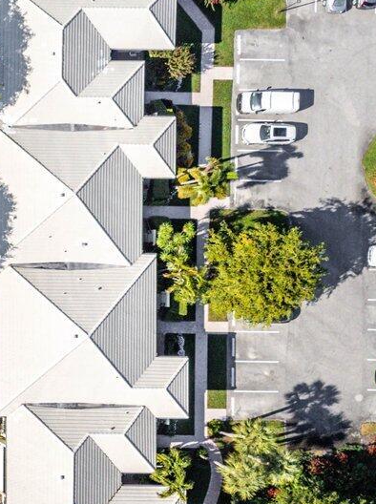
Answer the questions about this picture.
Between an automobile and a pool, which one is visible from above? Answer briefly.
automobile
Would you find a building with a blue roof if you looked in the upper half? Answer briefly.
No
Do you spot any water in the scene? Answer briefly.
No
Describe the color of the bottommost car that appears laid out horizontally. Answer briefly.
white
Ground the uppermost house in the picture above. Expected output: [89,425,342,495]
[0,0,178,128]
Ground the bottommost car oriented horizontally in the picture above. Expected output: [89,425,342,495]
[241,119,300,146]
